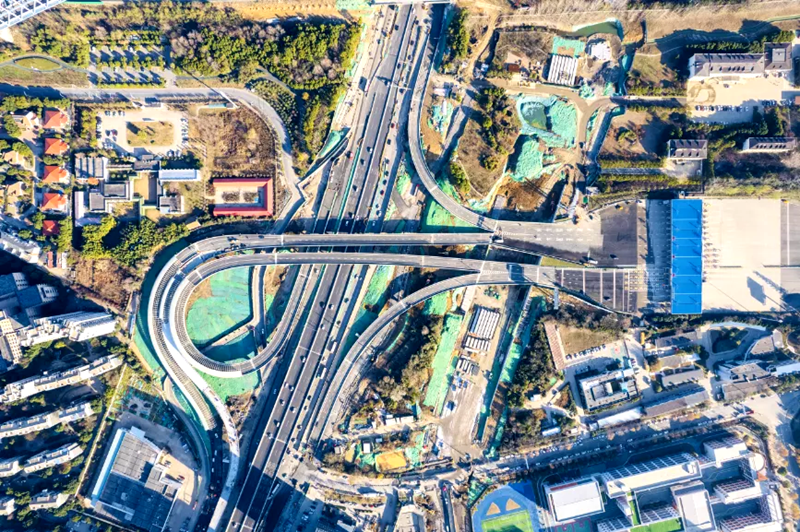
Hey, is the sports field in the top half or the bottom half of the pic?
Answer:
bottom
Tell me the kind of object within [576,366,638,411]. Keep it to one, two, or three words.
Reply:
building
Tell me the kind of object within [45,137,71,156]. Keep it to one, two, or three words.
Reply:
house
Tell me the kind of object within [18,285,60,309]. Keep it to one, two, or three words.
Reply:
building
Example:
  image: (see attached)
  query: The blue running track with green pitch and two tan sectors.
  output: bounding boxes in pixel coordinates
[472,478,539,532]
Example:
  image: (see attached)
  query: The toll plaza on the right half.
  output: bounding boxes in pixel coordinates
[482,197,800,316]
